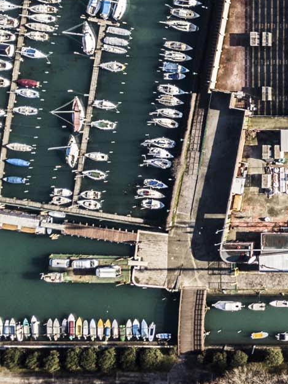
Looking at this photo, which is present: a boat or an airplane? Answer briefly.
boat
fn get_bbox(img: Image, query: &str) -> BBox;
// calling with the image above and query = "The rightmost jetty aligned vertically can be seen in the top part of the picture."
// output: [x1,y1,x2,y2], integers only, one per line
[73,22,104,205]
